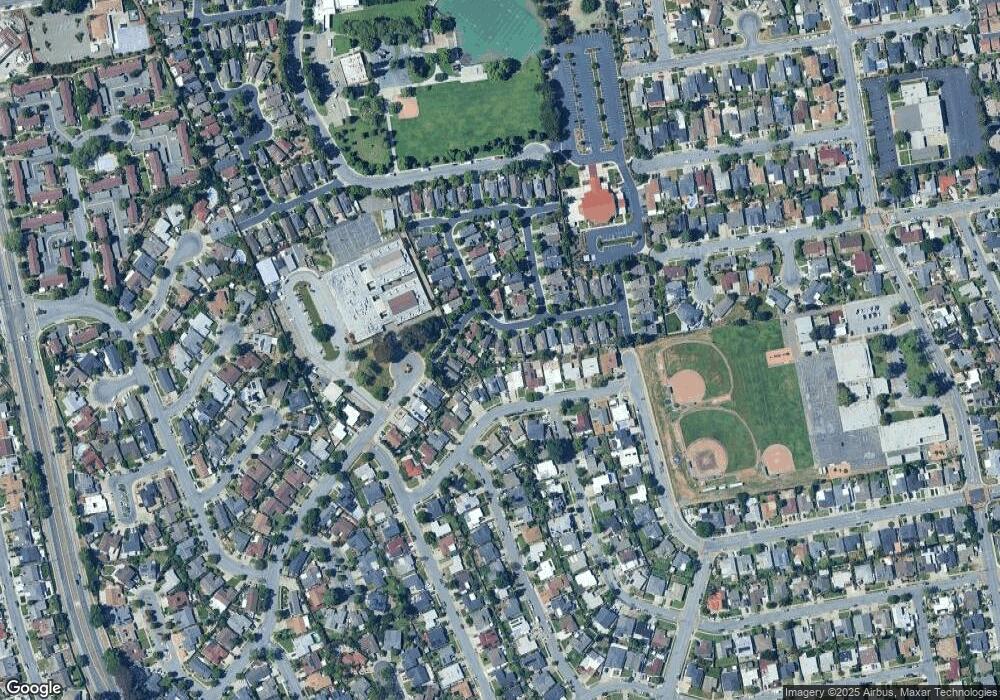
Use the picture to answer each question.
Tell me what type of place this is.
residential area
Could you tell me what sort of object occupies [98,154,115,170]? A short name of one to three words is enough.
swimming pool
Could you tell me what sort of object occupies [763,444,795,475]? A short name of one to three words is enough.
baseball field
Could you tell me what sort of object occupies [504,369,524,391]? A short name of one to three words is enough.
house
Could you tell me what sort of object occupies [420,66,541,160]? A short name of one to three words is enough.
sports field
